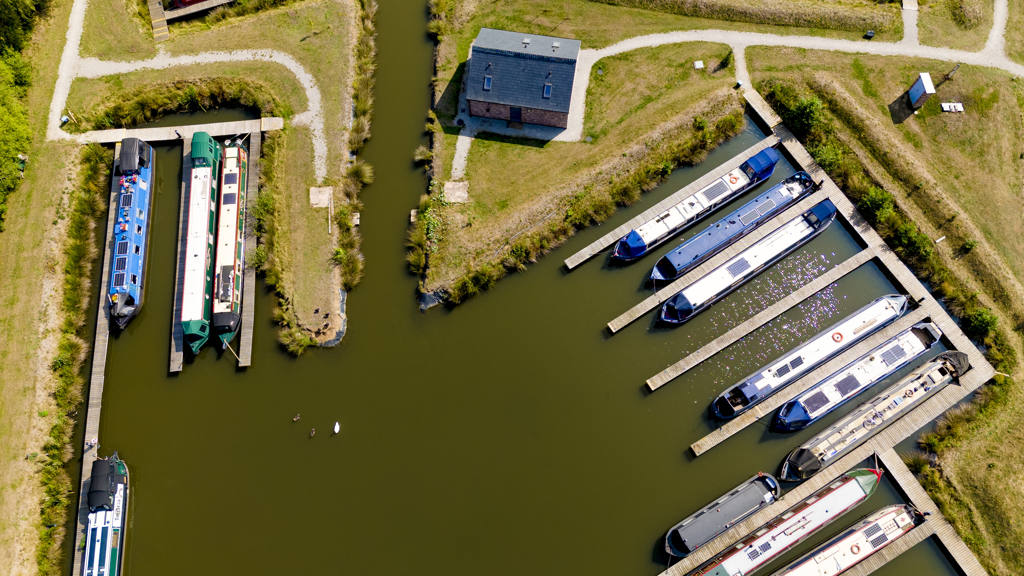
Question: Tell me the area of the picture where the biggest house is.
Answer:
top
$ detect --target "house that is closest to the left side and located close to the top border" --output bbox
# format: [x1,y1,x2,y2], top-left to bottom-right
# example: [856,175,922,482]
[466,27,580,129]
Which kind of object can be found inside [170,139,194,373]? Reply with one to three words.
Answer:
pier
